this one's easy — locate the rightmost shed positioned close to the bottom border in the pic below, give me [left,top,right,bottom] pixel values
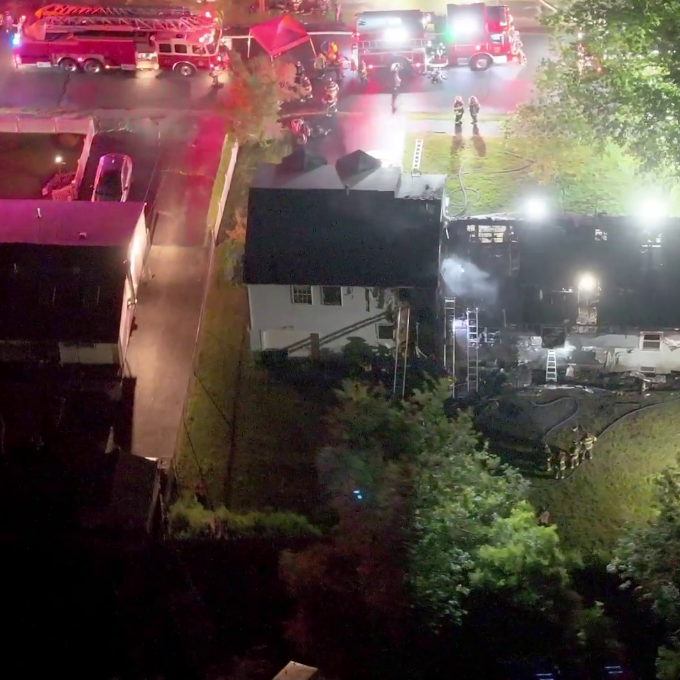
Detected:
[279,660,317,680]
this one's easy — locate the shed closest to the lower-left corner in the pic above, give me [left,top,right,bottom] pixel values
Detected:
[68,461,167,566]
